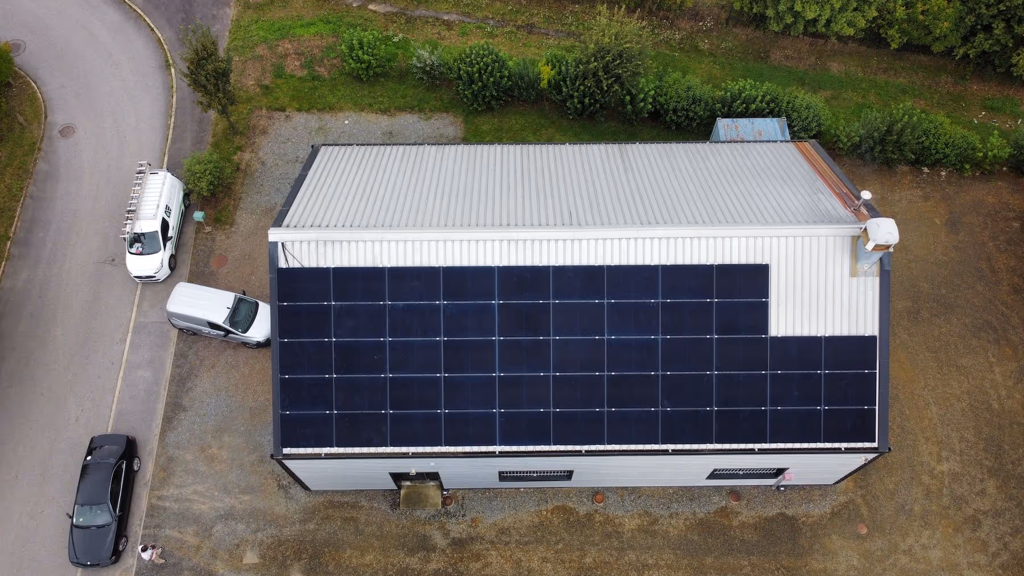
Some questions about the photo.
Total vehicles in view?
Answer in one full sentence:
The count of vehicles comes to 3.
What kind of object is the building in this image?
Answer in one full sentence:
Specifically, the building is a warehouse.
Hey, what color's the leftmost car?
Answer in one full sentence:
In this view, the leftmost car is black.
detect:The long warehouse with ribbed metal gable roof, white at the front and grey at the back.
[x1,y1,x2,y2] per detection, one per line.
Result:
[267,139,891,491]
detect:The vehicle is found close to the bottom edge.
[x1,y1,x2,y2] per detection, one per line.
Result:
[61,436,142,572]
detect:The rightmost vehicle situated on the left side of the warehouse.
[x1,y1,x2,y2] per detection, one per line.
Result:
[162,279,270,350]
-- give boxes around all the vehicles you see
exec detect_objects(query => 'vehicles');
[61,436,142,572]
[118,165,190,283]
[162,279,270,350]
